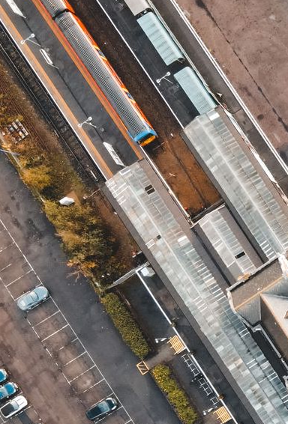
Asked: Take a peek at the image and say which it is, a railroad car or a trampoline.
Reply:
railroad car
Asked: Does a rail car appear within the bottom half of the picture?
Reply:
No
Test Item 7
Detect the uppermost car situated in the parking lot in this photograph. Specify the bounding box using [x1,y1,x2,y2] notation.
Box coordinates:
[16,286,52,309]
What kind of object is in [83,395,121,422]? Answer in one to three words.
car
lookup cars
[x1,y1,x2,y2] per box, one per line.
[16,286,52,309]
[0,381,20,402]
[83,395,121,422]
[0,368,9,384]
[0,395,30,418]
